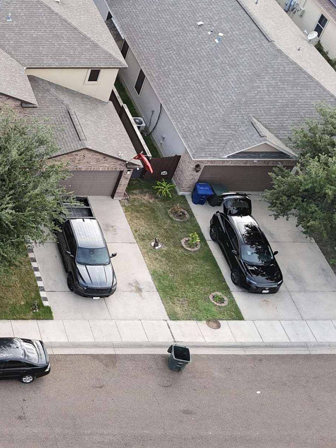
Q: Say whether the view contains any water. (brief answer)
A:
No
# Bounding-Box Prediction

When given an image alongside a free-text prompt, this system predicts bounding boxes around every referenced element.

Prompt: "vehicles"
[0,337,55,384]
[51,199,118,299]
[210,198,280,295]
